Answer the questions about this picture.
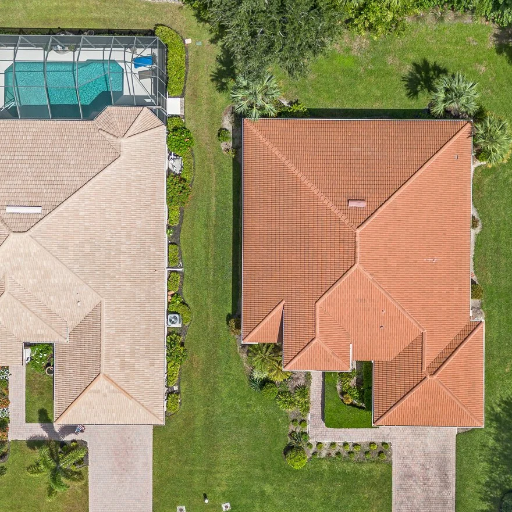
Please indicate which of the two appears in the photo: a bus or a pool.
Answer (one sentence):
Looking from above, you can make out a pool.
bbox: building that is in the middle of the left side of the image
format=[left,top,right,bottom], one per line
[0,104,166,427]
